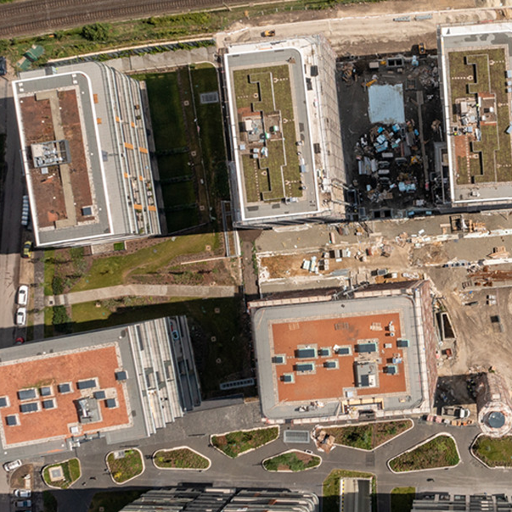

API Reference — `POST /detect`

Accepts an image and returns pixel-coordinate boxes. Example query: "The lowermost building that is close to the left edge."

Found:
[0,315,196,462]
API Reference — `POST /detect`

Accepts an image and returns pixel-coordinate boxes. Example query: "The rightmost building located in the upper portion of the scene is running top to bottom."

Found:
[430,12,512,216]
